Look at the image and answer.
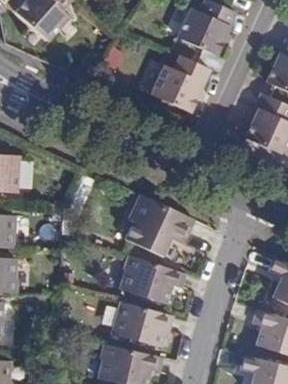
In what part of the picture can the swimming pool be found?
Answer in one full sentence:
The swimming pool is located in the left region of the scene.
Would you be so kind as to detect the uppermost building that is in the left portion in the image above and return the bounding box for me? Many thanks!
[18,0,76,42]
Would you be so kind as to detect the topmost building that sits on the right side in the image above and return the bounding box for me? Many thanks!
[178,0,238,53]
